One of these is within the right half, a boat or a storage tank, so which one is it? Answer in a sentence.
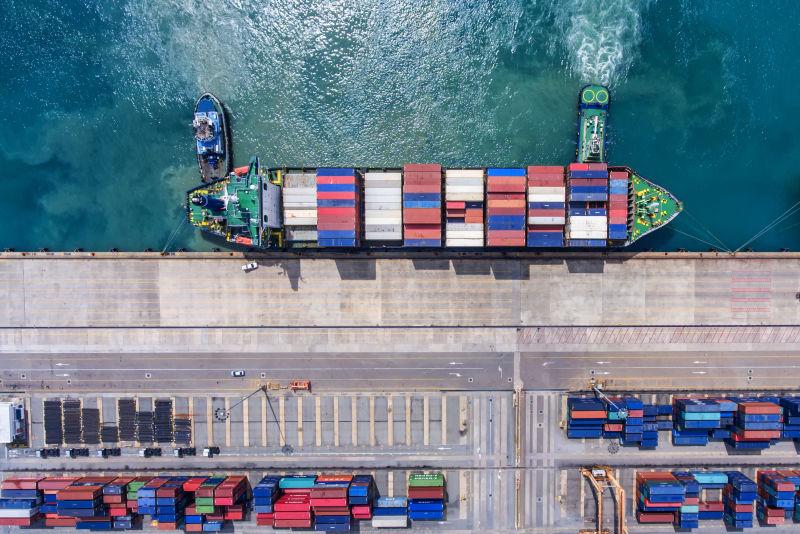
What appears within the right half is a boat.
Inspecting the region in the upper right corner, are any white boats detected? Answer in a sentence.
No, I can find no white boat in the upper right corner.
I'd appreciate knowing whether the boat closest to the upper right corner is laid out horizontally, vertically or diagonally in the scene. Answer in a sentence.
Seen from above, the boat closest to the upper right corner lies vertically.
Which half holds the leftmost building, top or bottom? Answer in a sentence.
The leftmost building is in the bottom half of the image.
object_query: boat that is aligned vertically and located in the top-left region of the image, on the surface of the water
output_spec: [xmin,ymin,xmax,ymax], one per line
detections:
[192,91,230,183]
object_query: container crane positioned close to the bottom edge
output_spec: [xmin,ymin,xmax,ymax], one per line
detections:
[580,468,627,534]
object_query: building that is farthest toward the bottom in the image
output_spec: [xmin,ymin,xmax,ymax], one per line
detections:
[0,400,33,446]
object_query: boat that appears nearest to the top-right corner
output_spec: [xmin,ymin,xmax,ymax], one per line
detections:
[574,83,610,164]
